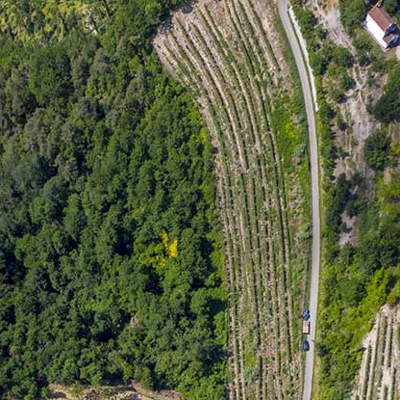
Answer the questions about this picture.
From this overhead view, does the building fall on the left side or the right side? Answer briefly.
right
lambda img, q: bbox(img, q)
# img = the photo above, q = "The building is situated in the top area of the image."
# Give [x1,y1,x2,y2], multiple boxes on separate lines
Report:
[364,1,397,44]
